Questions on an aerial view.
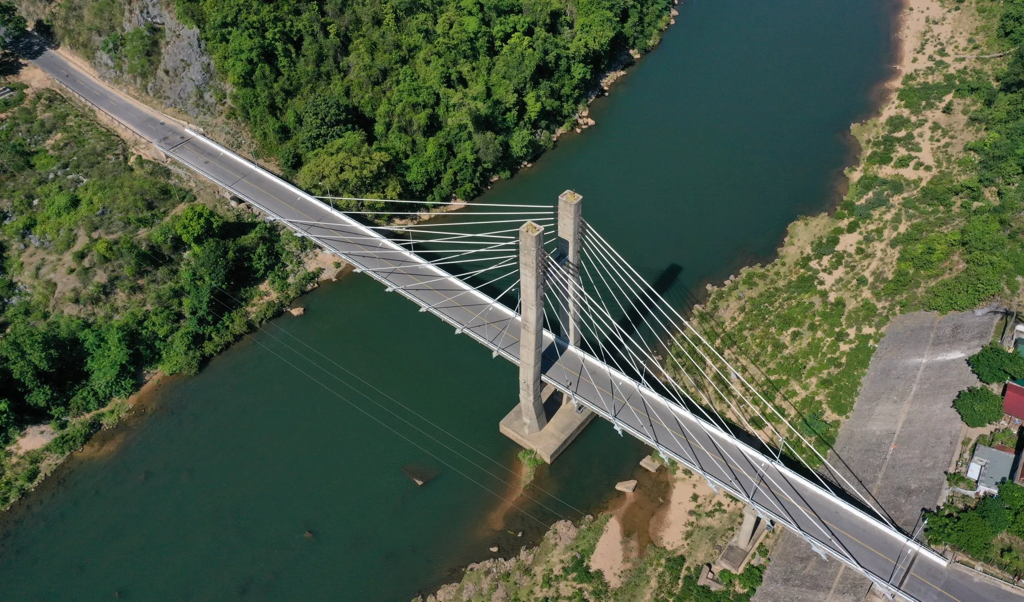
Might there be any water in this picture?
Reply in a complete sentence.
Yes, water can be seen from above here.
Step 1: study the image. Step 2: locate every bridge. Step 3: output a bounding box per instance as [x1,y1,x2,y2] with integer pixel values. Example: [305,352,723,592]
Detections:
[151,127,951,602]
